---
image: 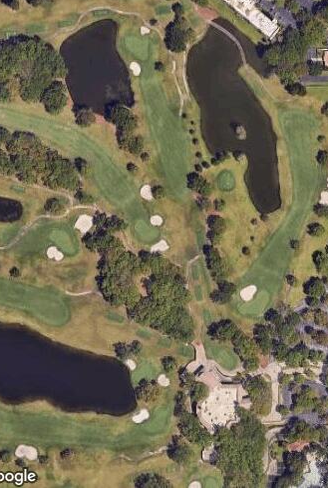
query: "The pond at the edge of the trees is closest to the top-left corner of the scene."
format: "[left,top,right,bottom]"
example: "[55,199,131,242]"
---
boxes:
[61,20,134,116]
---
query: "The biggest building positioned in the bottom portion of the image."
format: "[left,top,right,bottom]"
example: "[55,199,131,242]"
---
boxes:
[197,386,240,429]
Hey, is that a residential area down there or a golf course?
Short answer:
golf course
